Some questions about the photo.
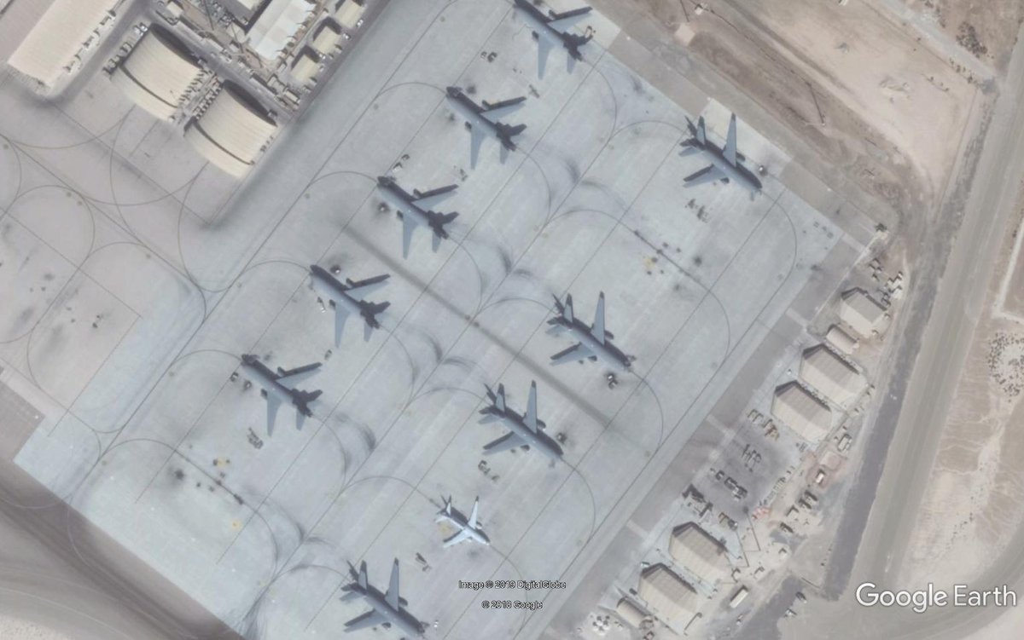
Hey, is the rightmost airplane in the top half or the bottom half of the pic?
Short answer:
top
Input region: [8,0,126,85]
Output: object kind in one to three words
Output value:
building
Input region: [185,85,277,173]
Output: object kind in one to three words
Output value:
hangar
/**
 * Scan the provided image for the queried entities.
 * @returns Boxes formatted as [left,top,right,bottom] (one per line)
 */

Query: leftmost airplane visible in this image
[241,363,321,439]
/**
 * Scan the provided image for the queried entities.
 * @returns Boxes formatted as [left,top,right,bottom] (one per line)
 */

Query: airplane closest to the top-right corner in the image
[677,113,761,191]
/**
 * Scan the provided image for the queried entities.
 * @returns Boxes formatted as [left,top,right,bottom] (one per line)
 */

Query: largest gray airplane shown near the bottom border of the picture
[341,562,424,639]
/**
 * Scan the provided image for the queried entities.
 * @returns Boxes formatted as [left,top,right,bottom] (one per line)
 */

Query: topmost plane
[513,3,594,81]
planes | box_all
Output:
[546,293,630,370]
[341,562,424,639]
[310,273,390,350]
[677,113,761,191]
[446,94,526,171]
[478,384,562,462]
[437,499,489,547]
[378,184,458,262]
[513,3,594,81]
[241,363,321,439]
